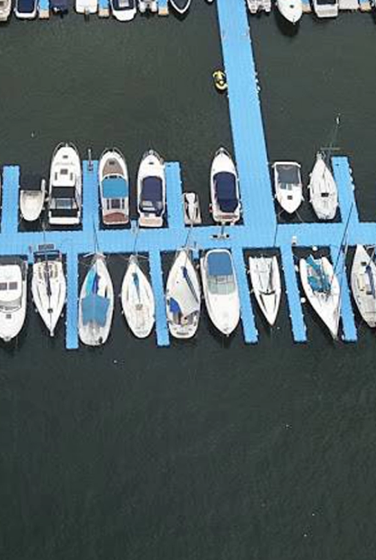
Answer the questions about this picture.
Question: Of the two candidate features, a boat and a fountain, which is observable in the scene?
boat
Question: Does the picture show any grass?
No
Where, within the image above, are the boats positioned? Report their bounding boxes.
[78,235,115,353]
[244,0,270,19]
[137,149,167,234]
[162,221,201,346]
[346,222,376,335]
[139,0,160,18]
[246,236,290,324]
[13,0,39,23]
[310,0,348,23]
[51,0,69,14]
[75,0,99,20]
[208,148,247,230]
[275,0,305,26]
[271,159,302,222]
[47,140,84,233]
[31,244,69,340]
[119,226,156,341]
[306,114,340,223]
[19,176,49,223]
[107,0,137,26]
[184,194,200,226]
[171,0,190,16]
[199,248,244,339]
[295,240,346,339]
[0,257,28,340]
[98,148,131,235]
